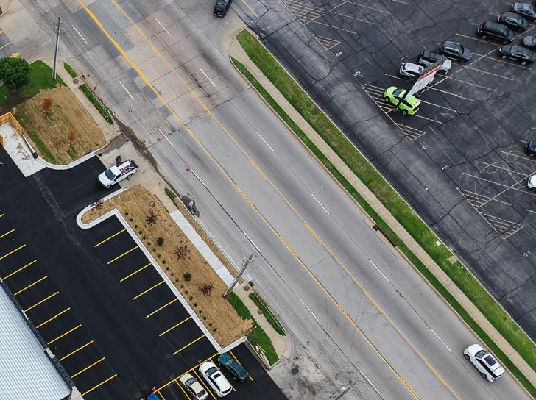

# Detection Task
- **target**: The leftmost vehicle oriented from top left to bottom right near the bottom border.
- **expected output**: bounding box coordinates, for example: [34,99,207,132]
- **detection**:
[176,371,210,400]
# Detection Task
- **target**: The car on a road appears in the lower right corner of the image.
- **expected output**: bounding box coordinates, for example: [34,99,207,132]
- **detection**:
[464,345,504,382]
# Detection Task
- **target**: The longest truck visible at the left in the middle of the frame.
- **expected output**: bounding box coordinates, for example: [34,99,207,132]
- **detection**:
[97,159,140,190]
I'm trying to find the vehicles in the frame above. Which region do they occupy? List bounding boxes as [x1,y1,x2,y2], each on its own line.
[383,90,421,114]
[495,8,530,33]
[499,45,536,66]
[214,0,231,17]
[510,1,536,24]
[476,20,514,47]
[176,371,210,400]
[520,36,536,51]
[437,39,473,63]
[464,345,504,382]
[398,59,426,77]
[198,362,232,398]
[527,175,536,191]
[215,351,252,386]
[97,159,140,190]
[146,391,163,400]
[524,138,536,155]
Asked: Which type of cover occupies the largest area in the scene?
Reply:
paved ground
